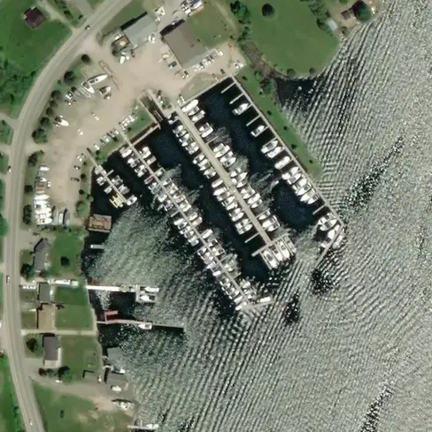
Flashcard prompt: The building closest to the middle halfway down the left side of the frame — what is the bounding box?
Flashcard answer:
[88,211,113,232]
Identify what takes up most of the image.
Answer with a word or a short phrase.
water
